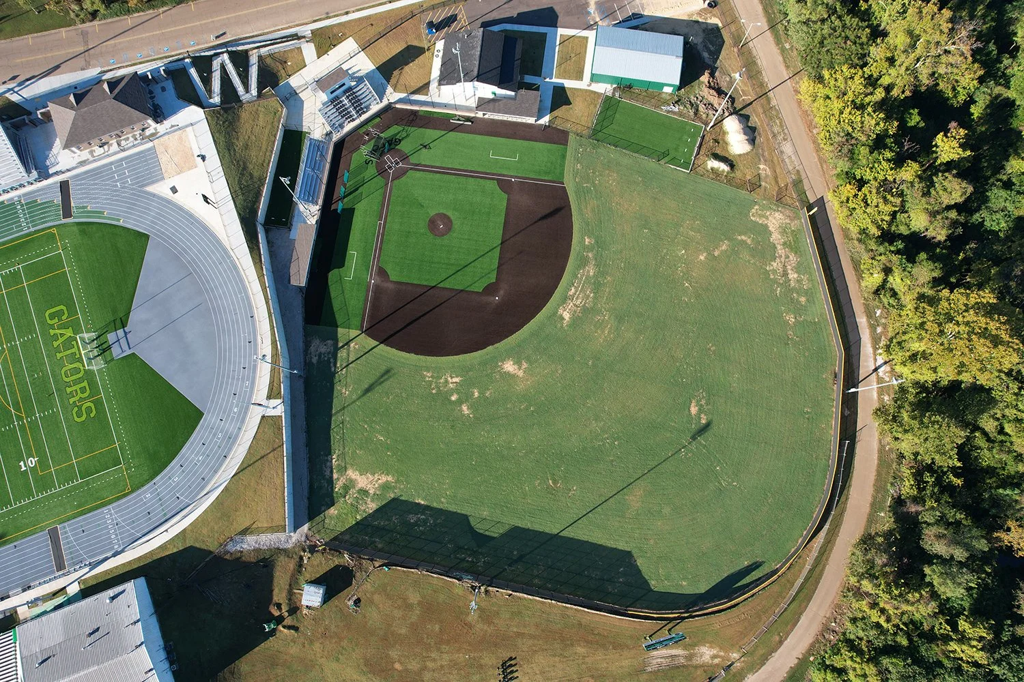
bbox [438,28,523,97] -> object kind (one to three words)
building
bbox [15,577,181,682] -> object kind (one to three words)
building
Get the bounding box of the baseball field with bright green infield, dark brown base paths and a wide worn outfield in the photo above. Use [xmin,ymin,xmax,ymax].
[302,107,838,612]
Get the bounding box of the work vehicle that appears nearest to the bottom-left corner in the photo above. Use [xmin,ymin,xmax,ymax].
[257,620,278,635]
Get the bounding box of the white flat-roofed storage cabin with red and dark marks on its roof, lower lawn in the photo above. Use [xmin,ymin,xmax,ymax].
[297,582,330,609]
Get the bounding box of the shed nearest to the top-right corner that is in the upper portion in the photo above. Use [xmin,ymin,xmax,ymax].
[591,25,684,92]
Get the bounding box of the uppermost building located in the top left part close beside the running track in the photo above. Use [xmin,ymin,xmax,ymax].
[47,71,156,153]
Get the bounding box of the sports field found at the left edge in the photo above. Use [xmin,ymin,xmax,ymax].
[0,222,217,549]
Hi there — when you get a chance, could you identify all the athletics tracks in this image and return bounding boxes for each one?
[0,128,259,593]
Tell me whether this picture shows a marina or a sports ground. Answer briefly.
sports ground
